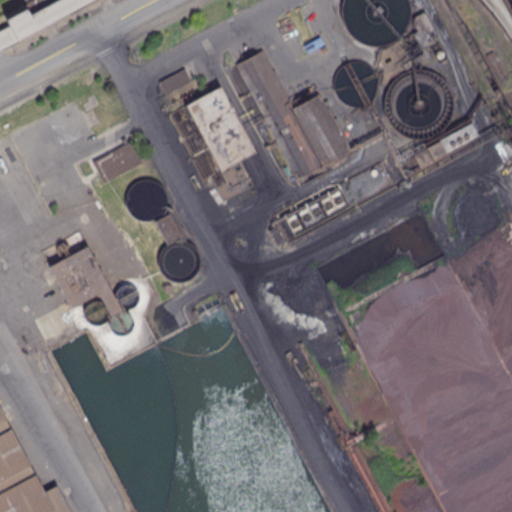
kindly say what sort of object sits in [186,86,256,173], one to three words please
building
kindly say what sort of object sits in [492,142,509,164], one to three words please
vehicle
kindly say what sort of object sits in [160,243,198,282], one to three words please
storage tank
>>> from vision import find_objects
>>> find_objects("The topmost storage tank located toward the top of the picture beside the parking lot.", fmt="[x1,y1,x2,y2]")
[126,180,168,221]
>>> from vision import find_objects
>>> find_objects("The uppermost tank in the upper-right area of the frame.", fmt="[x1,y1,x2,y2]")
[342,0,412,48]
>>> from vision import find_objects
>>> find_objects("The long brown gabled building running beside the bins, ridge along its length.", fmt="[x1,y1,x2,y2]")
[236,48,321,179]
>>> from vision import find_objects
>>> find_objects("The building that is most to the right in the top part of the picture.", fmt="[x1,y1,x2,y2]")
[442,126,479,154]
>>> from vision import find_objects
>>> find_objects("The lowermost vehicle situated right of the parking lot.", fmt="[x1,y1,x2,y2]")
[229,292,245,312]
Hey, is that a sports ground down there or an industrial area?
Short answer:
industrial area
